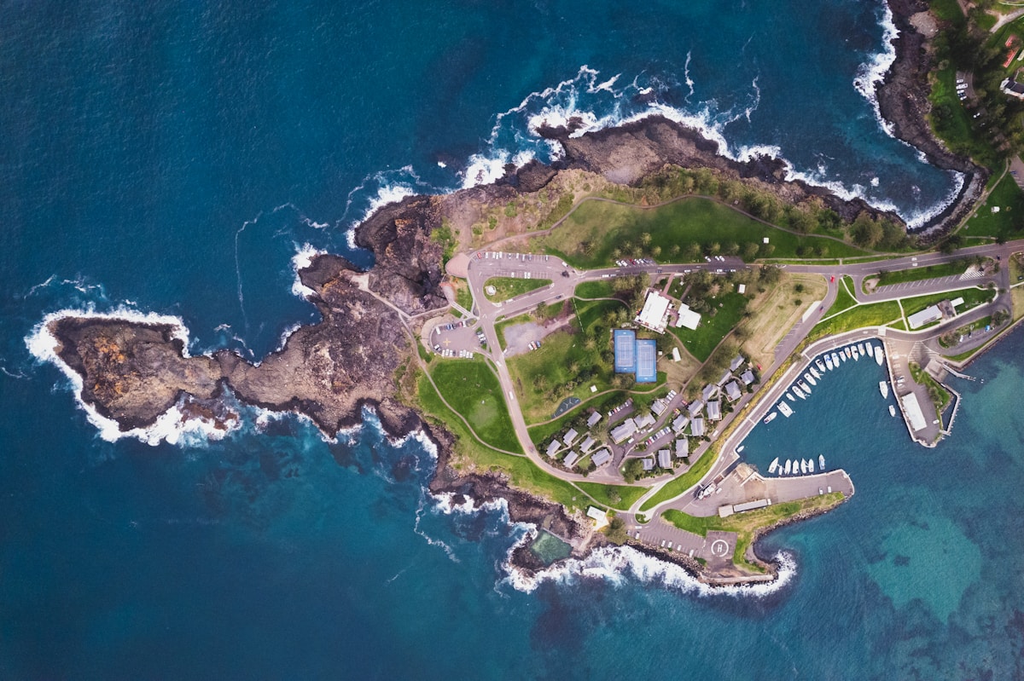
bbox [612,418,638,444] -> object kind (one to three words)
building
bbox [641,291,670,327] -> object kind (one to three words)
building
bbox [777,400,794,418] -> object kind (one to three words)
boat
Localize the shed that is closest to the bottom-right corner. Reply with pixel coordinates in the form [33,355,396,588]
[903,394,929,431]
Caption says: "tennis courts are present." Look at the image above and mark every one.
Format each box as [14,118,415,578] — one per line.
[636,339,657,383]
[614,329,636,373]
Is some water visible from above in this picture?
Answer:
Yes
